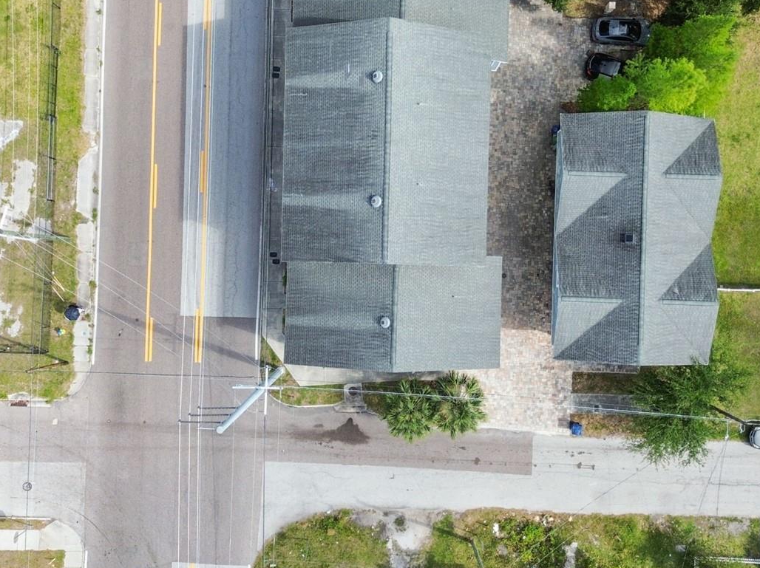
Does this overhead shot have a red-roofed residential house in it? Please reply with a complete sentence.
No, I can't see a single red-roofed residential house in this photo.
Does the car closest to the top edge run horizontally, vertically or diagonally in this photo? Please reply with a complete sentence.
Seen from above, the car closest to the top edge lies horizontally.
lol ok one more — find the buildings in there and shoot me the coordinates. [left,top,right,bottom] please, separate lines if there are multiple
[281,0,509,374]
[544,111,723,368]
